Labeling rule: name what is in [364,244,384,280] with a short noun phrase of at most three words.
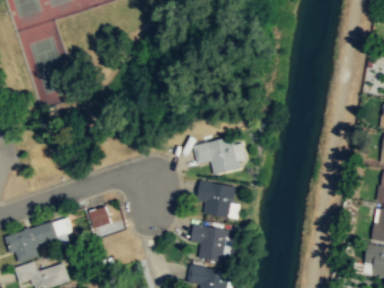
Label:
house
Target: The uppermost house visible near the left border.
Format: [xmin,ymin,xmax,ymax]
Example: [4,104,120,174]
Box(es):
[5,218,74,264]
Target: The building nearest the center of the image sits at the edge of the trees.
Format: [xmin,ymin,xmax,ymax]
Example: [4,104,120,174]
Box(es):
[194,138,248,176]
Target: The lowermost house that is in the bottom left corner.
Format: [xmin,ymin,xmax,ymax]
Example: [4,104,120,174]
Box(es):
[15,260,70,288]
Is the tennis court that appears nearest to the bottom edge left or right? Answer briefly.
left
